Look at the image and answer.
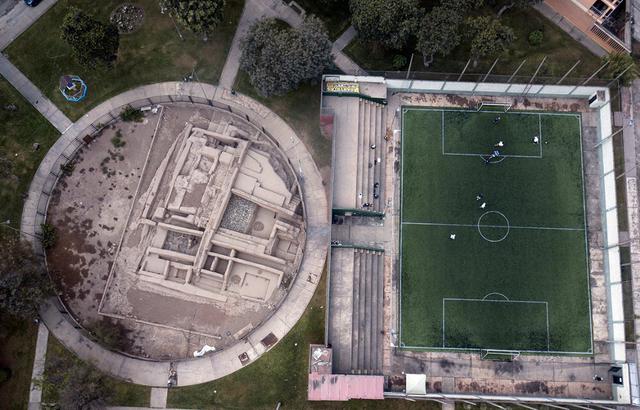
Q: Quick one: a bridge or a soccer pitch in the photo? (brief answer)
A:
soccer pitch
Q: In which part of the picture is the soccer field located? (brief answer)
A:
right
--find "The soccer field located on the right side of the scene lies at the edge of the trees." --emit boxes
[398,106,594,359]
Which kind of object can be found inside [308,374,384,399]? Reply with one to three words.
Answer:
shed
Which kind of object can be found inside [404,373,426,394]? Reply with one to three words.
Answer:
tent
